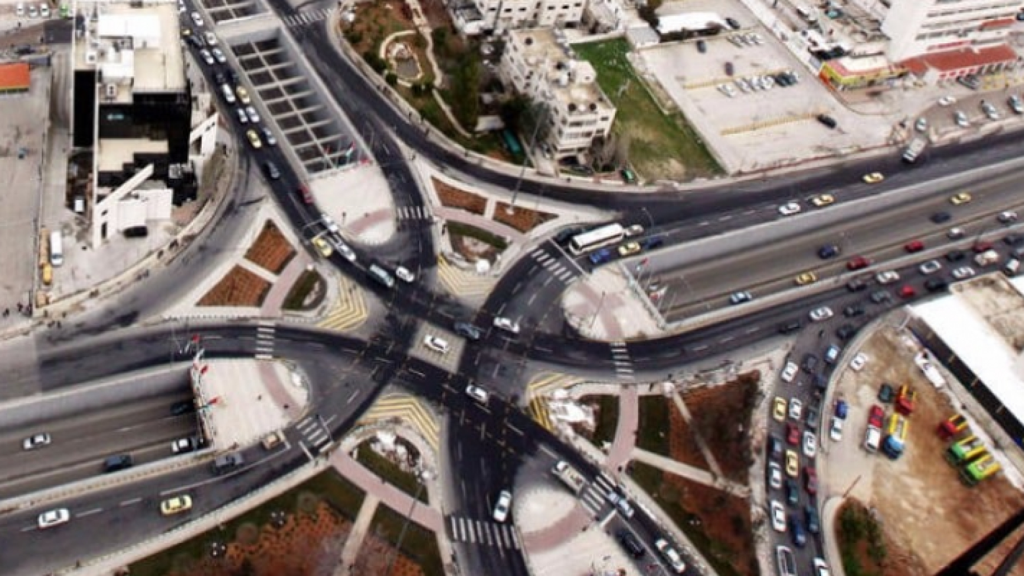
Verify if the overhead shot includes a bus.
Yes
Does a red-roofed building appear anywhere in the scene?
Yes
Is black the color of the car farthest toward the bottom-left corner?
No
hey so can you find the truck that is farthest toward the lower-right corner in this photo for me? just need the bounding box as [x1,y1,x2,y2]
[961,450,1008,483]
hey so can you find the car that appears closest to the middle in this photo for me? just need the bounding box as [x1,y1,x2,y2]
[491,312,522,335]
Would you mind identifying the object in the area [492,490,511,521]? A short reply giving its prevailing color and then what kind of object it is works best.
white car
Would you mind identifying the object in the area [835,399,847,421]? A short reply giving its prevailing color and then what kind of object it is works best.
blue vehicle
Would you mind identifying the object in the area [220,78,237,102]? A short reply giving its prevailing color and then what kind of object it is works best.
white vehicle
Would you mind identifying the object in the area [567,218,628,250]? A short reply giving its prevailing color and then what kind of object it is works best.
white bus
